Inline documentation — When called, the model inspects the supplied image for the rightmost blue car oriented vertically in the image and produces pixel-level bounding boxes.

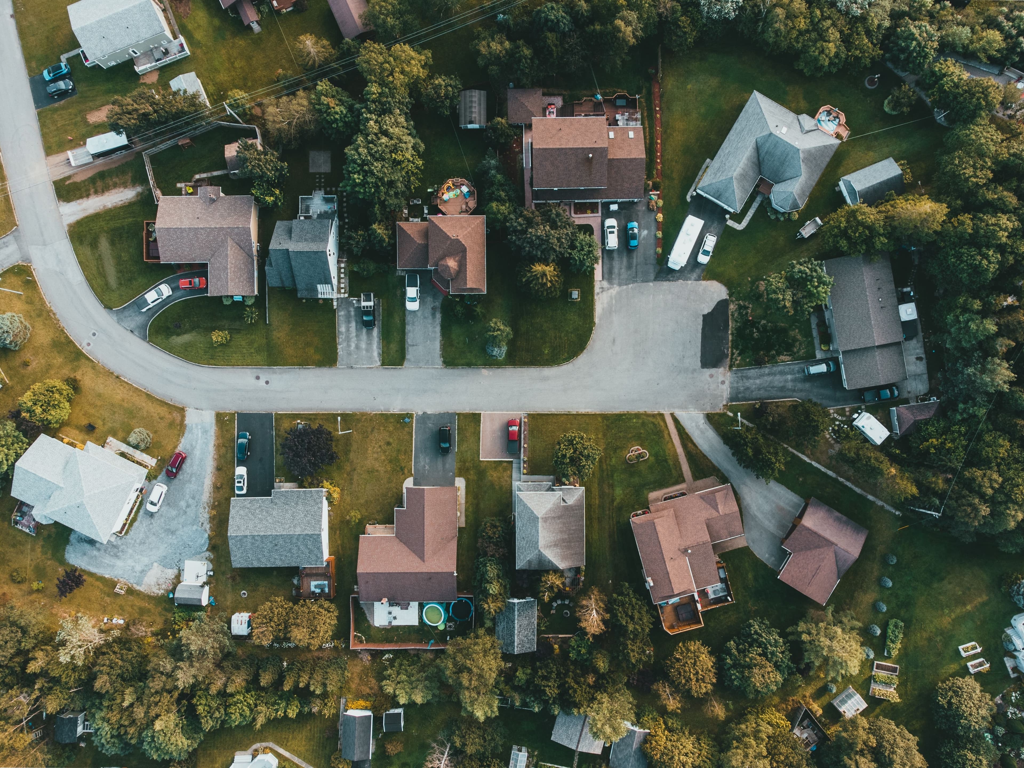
[626,221,640,250]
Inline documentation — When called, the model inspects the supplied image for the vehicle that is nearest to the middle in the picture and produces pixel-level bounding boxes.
[506,419,521,454]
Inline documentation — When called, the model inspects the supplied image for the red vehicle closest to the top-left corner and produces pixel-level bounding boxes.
[178,275,208,290]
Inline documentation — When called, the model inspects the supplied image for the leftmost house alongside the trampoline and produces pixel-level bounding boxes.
[356,485,458,606]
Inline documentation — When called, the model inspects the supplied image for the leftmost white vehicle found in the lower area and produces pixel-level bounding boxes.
[145,482,170,513]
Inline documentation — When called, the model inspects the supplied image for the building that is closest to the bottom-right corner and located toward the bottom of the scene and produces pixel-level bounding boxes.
[995,603,1024,648]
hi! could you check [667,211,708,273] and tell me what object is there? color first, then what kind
white camper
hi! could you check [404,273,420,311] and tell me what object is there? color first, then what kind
white vehicle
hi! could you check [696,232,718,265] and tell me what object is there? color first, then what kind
white car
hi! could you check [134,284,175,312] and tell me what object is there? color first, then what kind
white vehicle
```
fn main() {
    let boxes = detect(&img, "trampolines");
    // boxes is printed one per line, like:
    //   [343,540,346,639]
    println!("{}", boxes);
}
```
[450,597,473,621]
